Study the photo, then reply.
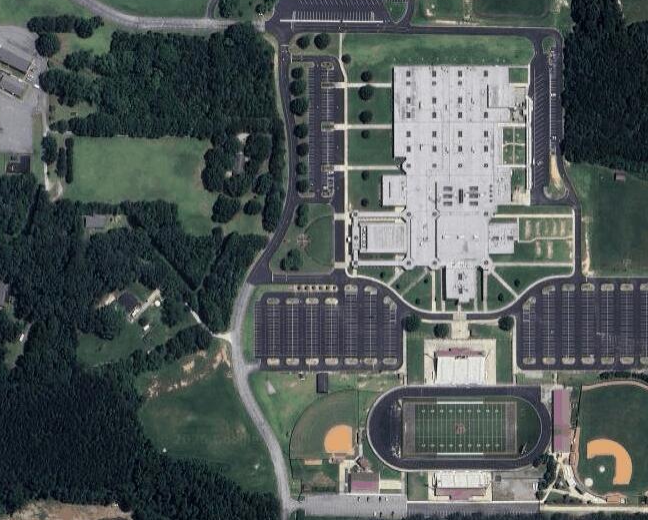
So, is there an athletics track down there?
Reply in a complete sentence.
Yes, you can see an athletics track in this photo.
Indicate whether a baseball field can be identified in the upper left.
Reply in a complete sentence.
No, no baseball field is visible in the upper left.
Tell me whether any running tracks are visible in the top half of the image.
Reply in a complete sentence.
No, in the top half of the image there is no running track.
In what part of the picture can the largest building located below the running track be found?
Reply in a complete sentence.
The largest building located below the running track appears toward the bottom of the photo.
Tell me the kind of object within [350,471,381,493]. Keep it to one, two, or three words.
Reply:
building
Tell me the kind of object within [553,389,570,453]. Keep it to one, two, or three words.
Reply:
building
